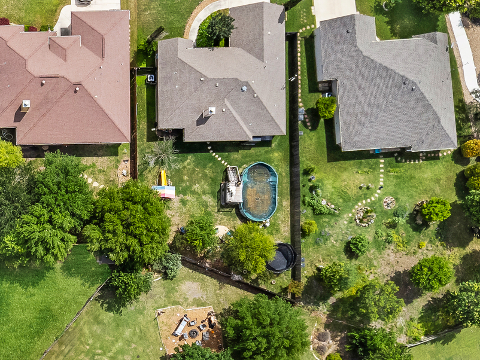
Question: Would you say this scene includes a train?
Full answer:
No, the frame has no train in it.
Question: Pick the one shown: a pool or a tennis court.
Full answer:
There is a pool in the scene.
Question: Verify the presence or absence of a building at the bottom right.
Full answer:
No, there's no building to be seen at the bottom right.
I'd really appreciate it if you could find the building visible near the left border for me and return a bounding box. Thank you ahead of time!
[0,10,130,146]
